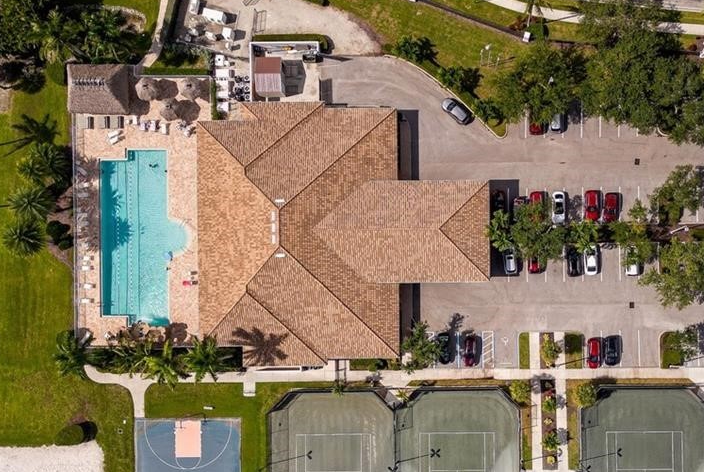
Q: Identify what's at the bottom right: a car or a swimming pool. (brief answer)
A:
car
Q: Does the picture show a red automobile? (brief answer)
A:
Yes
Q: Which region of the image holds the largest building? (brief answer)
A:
center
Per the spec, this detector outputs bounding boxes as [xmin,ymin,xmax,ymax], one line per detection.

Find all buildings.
[253,54,282,96]
[63,61,133,118]
[194,101,489,370]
